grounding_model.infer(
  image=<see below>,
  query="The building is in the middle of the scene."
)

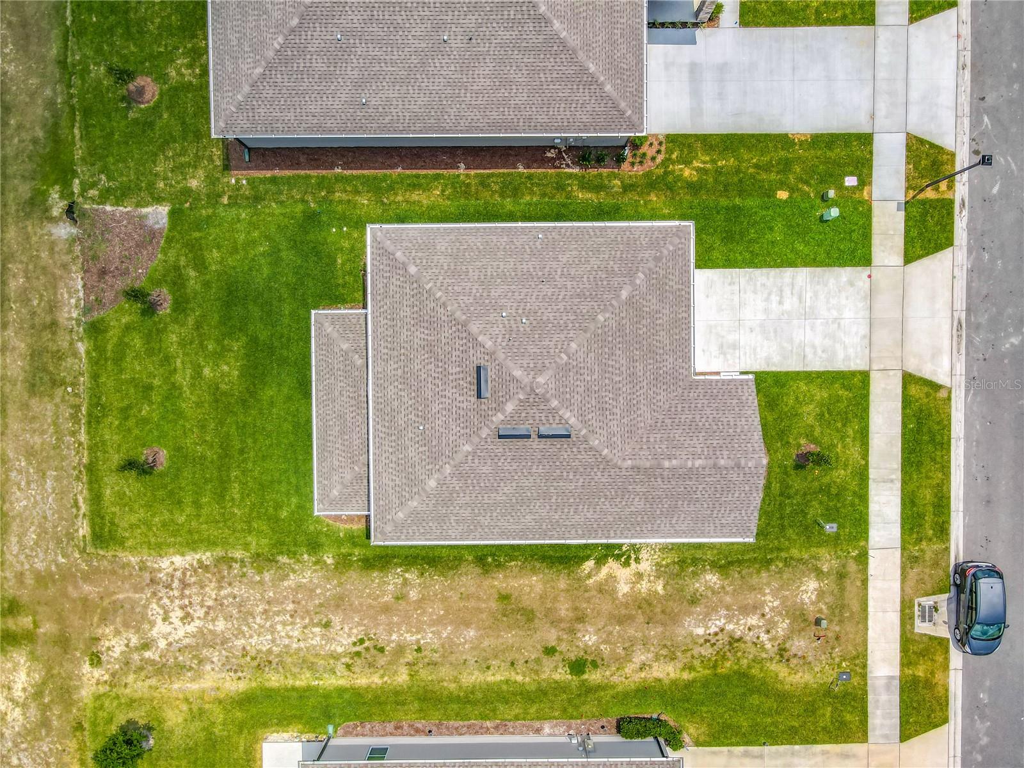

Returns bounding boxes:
[311,222,768,545]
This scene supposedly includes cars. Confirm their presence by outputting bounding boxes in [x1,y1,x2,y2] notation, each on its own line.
[953,561,1007,654]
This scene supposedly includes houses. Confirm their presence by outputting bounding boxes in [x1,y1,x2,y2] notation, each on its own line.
[300,735,683,768]
[311,222,768,545]
[209,0,647,150]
